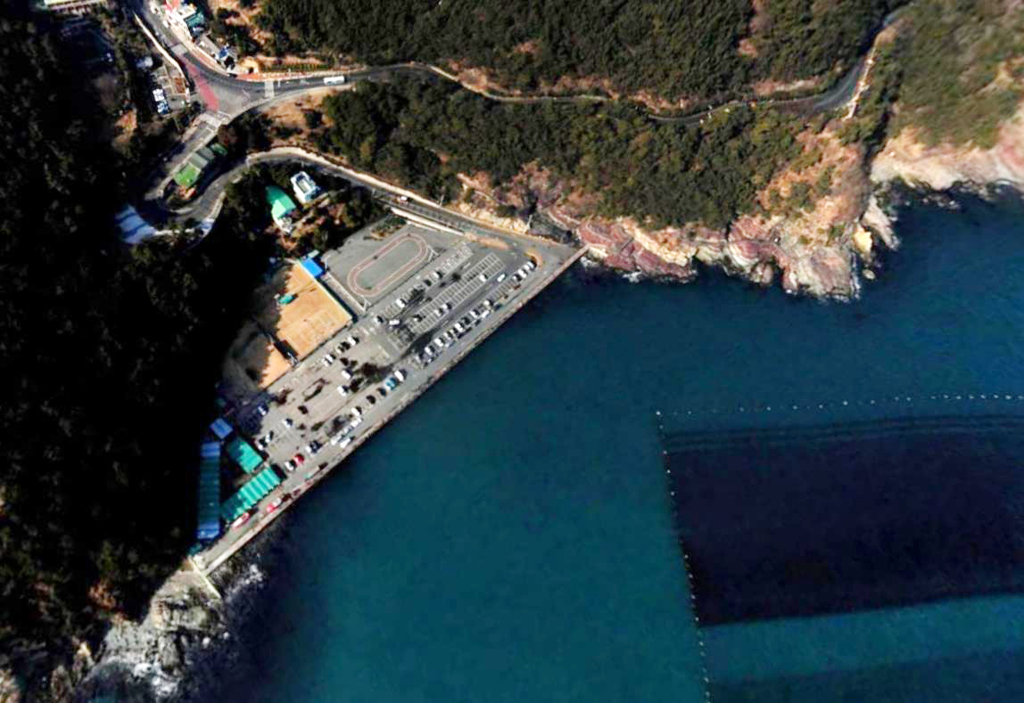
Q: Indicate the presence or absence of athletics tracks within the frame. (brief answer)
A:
Yes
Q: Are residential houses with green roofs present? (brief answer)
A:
Yes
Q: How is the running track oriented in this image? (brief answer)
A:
at an angle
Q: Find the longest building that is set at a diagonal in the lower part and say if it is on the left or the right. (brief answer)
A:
left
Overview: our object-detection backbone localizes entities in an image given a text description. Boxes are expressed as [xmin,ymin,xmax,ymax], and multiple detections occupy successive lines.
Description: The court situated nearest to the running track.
[257,258,350,356]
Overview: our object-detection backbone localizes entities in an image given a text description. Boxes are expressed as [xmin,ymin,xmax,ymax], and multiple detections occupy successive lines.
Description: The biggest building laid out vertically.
[197,442,221,543]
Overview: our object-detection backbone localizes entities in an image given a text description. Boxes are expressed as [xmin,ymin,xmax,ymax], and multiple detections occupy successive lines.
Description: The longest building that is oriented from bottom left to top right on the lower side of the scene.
[221,467,281,524]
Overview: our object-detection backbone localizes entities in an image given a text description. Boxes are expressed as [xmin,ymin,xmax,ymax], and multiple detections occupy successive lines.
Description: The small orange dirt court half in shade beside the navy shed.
[239,344,292,388]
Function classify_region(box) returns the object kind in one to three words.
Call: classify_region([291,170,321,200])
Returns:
house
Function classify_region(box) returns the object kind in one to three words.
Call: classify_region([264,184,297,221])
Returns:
house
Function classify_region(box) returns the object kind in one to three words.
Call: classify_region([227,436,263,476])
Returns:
building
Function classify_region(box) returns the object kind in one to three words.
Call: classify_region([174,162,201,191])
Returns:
building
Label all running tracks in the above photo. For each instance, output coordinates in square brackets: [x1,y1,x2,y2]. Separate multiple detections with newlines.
[348,232,428,297]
